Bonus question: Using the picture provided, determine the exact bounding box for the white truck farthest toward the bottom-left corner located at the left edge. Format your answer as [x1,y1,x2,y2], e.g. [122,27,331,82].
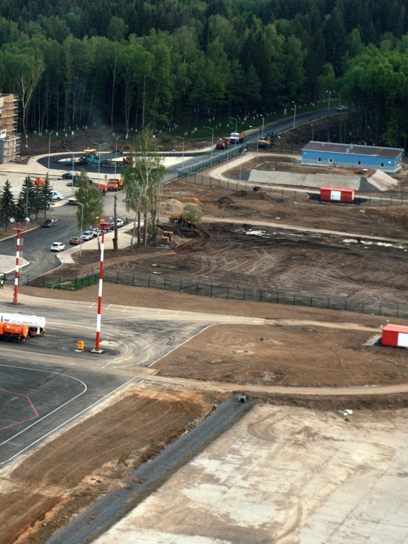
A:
[0,313,47,338]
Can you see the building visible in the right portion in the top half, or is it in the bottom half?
top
